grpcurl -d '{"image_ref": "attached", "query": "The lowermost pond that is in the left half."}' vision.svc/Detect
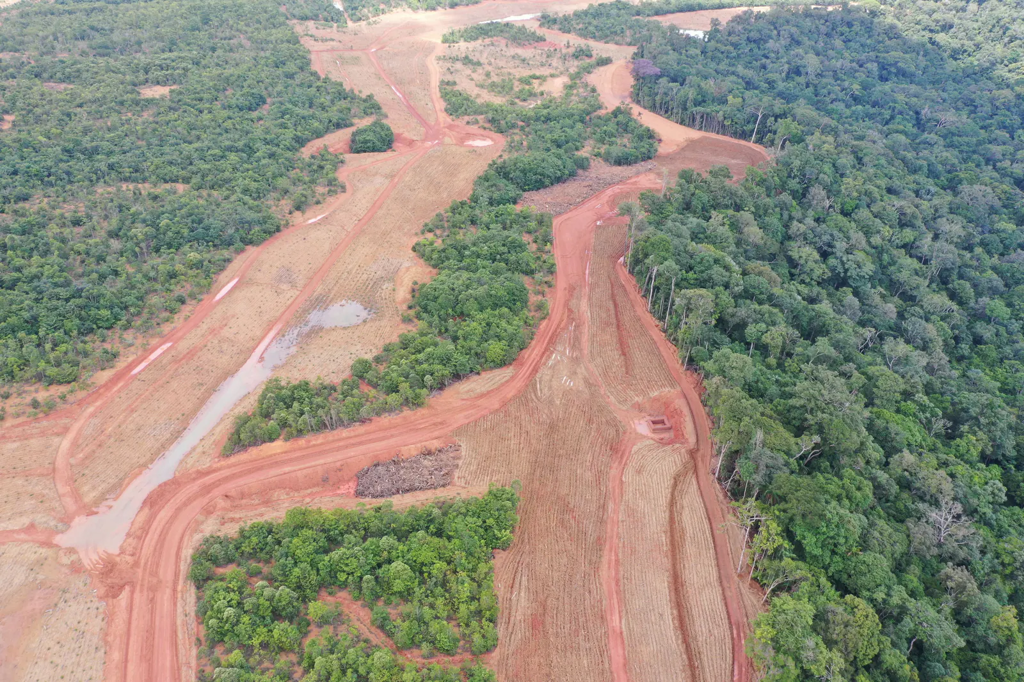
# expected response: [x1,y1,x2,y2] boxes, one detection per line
[58,322,285,569]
